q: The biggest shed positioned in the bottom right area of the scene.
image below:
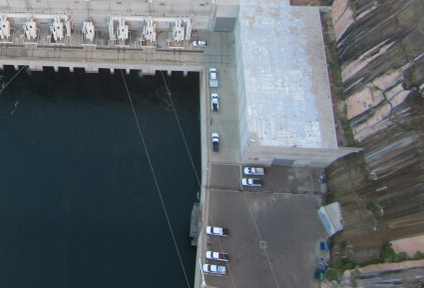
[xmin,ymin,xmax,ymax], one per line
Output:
[315,204,344,240]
